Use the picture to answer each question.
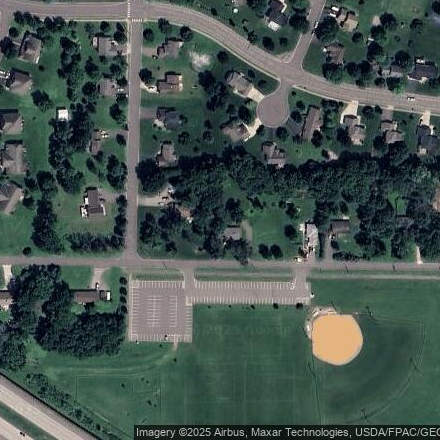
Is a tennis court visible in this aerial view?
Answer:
No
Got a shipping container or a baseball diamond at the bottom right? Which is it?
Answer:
baseball diamond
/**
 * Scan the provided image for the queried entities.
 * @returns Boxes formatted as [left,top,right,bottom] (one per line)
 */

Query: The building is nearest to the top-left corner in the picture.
[17,34,41,62]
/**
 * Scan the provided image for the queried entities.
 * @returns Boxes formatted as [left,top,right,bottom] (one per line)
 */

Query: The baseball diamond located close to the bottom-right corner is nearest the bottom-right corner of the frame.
[304,305,426,424]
